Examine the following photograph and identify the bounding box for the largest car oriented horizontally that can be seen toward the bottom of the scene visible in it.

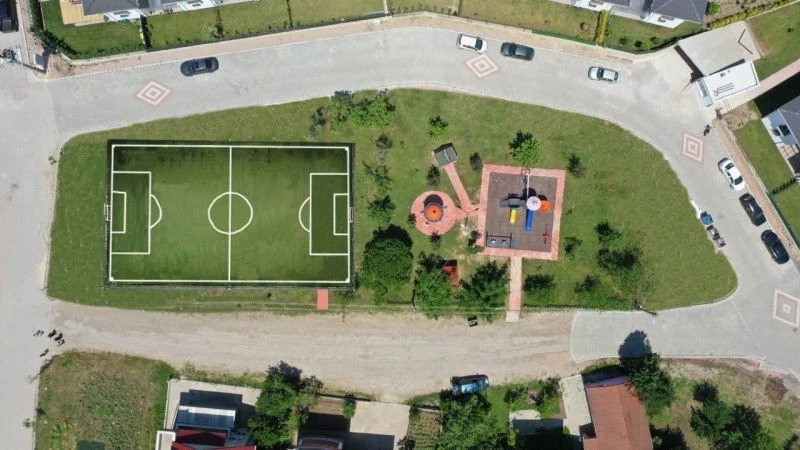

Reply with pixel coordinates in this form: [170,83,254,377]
[452,376,488,395]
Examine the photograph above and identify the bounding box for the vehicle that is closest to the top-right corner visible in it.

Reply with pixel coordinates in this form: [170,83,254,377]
[717,157,747,191]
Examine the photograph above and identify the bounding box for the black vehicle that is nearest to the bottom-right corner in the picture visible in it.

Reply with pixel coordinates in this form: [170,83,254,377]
[759,229,791,266]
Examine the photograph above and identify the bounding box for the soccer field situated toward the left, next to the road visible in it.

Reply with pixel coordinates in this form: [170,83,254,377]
[107,141,353,289]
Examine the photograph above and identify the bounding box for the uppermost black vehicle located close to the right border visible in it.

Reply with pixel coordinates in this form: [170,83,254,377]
[737,191,767,227]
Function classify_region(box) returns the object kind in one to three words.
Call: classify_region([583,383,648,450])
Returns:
house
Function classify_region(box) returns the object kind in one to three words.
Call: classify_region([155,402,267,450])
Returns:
house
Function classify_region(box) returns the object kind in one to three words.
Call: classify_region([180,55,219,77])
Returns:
car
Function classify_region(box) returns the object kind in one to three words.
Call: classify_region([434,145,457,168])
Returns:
building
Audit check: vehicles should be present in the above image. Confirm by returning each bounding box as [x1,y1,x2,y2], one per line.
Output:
[759,229,791,266]
[0,49,17,58]
[737,191,767,227]
[452,376,488,395]
[455,34,488,54]
[717,157,747,191]
[500,41,536,62]
[180,55,219,77]
[0,0,19,32]
[587,65,620,84]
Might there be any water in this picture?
No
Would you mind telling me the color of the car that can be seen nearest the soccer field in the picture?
black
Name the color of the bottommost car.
blue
